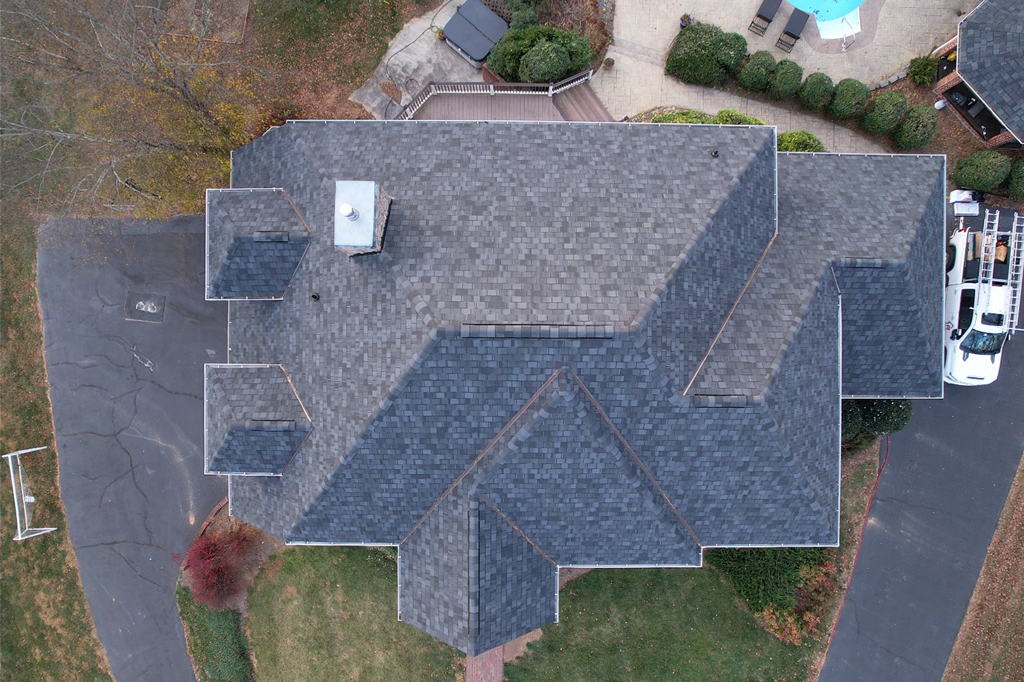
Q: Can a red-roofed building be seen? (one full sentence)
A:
No, there is no red-roofed building in the image.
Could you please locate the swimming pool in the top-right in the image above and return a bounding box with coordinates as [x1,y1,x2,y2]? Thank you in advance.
[780,0,886,53]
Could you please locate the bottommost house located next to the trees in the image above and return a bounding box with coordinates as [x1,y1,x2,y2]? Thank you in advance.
[205,120,947,656]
